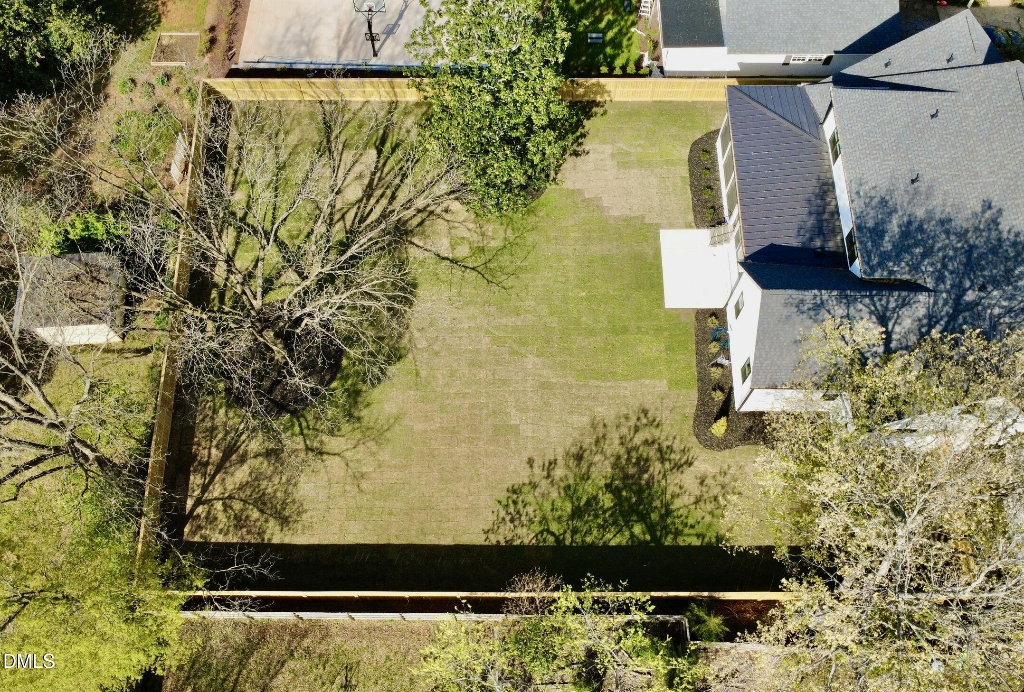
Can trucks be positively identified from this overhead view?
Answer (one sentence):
No, the scene contains no truck.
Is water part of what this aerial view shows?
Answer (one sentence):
No, the picture contains no water.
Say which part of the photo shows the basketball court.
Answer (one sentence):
The basketball court appears toward the top of the photo.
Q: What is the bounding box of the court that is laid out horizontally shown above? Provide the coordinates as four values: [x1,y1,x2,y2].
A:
[232,0,592,68]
